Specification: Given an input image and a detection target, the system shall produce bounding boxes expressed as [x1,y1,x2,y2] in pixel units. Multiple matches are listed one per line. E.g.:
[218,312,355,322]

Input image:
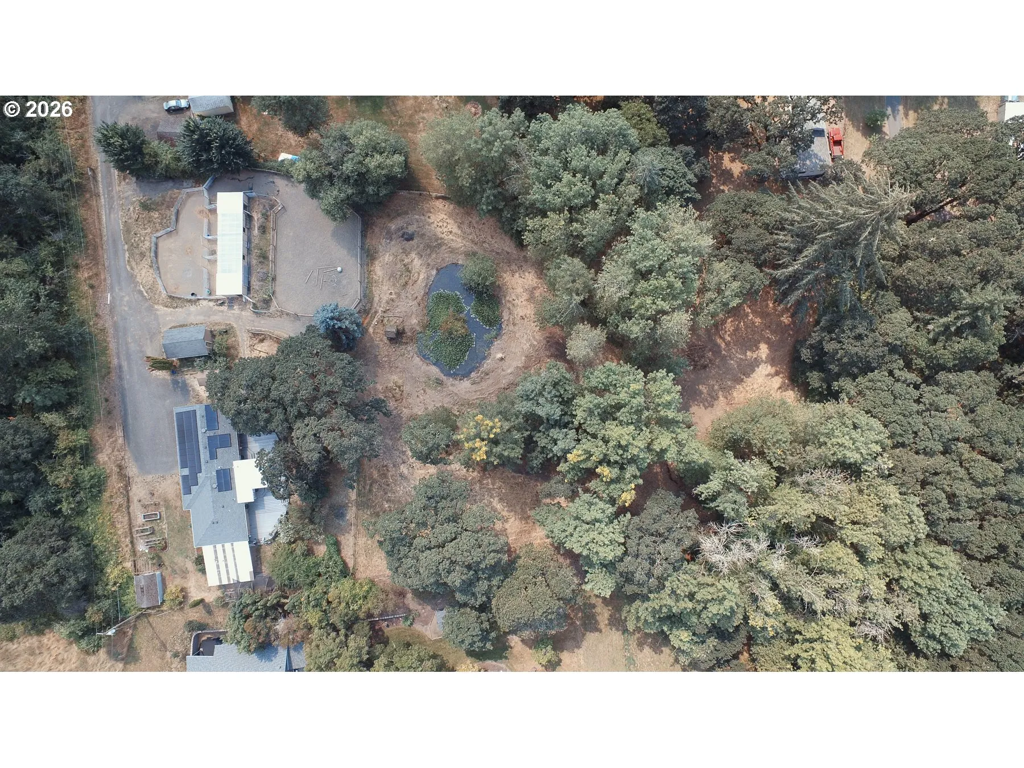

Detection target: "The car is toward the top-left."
[163,98,189,112]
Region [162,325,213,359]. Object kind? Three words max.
building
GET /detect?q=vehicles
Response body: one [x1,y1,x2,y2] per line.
[163,98,189,112]
[828,126,844,158]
